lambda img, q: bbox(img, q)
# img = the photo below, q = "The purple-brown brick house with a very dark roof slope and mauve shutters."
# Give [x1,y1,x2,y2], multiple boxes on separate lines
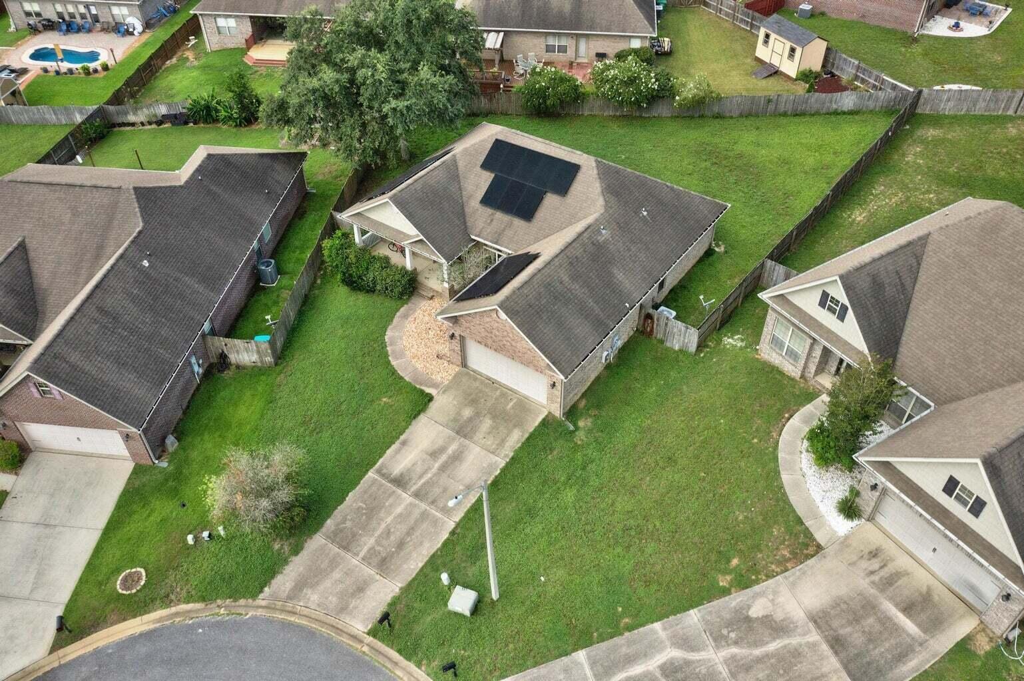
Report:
[0,146,313,468]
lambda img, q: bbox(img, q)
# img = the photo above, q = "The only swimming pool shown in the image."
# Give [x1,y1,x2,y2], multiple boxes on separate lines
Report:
[22,45,106,65]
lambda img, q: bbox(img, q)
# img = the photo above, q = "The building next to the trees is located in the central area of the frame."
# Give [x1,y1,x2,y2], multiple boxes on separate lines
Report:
[339,122,733,429]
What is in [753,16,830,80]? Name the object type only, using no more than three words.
shed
